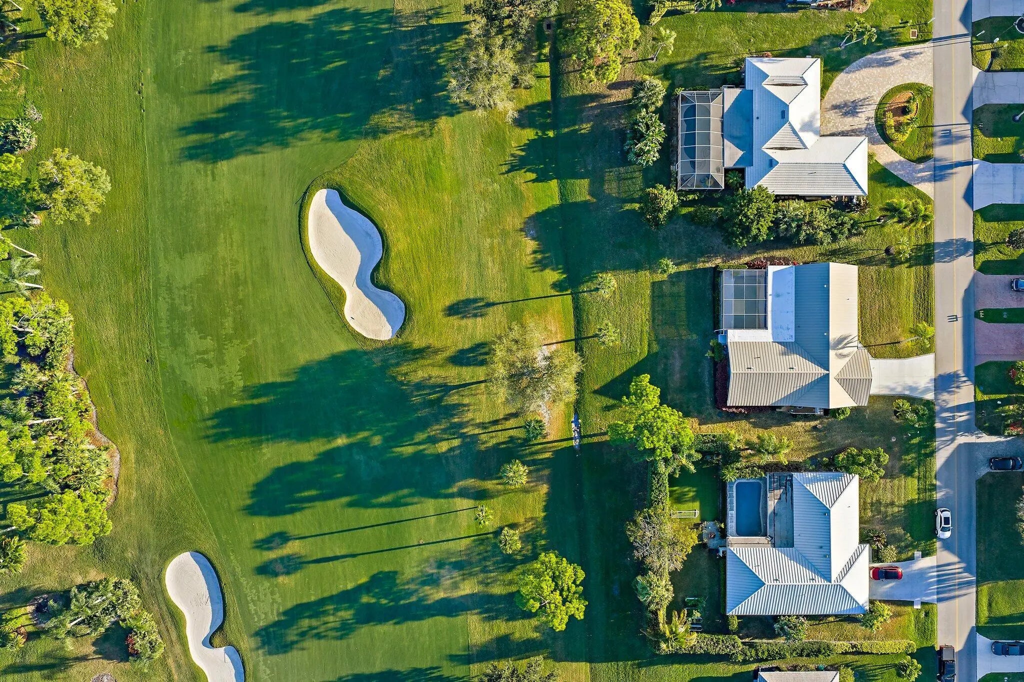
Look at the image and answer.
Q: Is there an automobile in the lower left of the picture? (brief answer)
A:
No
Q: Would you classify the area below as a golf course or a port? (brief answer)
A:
golf course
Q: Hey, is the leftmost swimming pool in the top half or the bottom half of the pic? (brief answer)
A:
top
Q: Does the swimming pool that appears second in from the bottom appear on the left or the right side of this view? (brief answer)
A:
right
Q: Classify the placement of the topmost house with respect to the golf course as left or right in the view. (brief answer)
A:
right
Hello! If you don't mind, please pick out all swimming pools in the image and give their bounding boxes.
[683,104,712,175]
[731,276,763,329]
[733,479,765,536]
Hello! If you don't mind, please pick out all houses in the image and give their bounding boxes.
[725,262,874,409]
[724,57,868,196]
[724,472,870,614]
[755,668,840,682]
